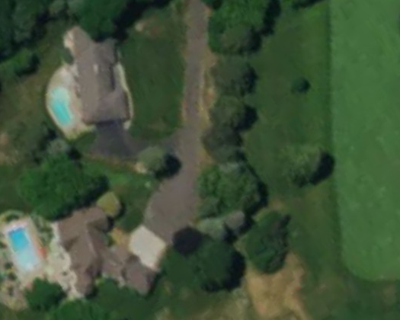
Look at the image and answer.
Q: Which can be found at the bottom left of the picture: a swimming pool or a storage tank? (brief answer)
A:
swimming pool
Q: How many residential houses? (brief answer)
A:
2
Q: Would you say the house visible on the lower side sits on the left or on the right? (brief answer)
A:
left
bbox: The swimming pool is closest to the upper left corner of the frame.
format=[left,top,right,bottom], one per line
[46,64,95,139]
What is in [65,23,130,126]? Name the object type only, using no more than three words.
house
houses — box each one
[51,197,164,302]
[65,23,130,126]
